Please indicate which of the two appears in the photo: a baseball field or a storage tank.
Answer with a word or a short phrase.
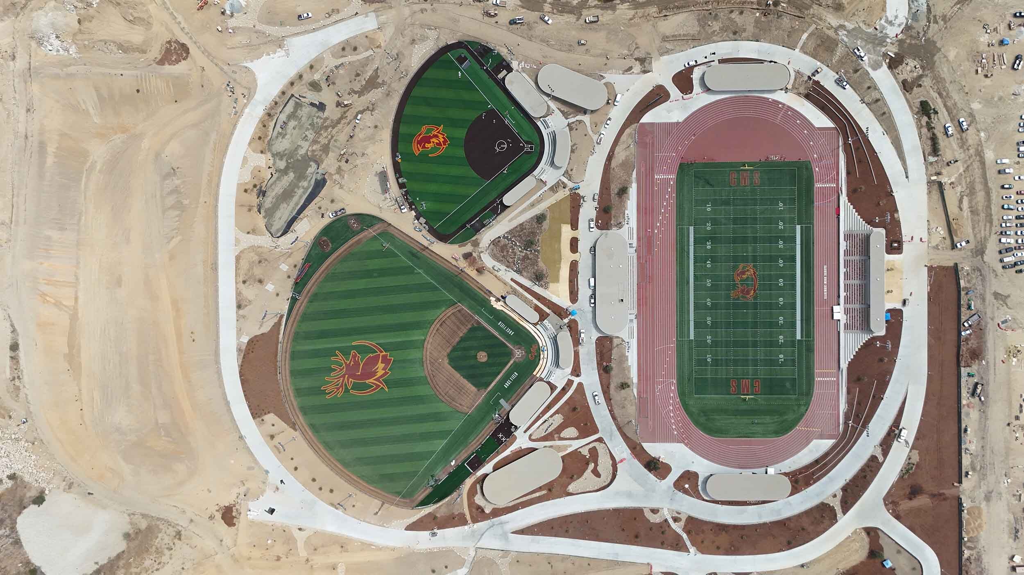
baseball field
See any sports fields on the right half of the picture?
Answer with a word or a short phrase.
Yes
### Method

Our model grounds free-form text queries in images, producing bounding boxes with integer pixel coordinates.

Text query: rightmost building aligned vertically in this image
[596,232,629,335]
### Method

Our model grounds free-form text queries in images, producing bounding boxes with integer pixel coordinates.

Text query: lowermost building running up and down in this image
[557,331,574,370]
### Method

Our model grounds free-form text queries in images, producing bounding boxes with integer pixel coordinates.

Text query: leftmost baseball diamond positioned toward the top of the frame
[398,48,539,236]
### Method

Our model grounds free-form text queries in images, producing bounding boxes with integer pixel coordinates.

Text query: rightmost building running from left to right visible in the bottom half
[706,473,791,501]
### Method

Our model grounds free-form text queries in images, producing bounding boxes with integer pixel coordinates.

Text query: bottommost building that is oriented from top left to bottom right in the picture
[506,295,539,323]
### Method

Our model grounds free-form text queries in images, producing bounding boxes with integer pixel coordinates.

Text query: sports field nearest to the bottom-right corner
[677,161,814,438]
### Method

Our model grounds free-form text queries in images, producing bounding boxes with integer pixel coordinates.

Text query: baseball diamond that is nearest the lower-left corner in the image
[289,227,538,504]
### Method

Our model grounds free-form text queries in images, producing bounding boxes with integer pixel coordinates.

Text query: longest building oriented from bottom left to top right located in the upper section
[503,176,536,206]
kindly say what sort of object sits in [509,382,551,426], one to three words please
building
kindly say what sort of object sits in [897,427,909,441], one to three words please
vehicle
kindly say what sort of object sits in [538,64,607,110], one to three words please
building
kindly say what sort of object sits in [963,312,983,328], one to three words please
vehicle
